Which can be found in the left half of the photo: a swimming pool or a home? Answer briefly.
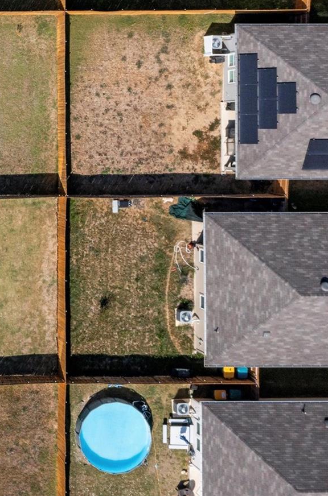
swimming pool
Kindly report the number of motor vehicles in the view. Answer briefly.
zero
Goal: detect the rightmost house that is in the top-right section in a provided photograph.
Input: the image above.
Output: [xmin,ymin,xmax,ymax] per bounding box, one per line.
[220,24,328,179]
